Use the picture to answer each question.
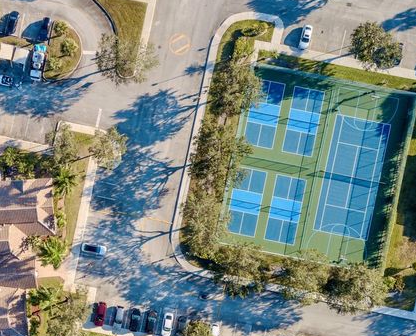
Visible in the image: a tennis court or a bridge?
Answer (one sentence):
Visible in the photo is a tennis court.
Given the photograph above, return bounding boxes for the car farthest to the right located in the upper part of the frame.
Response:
[299,26,312,51]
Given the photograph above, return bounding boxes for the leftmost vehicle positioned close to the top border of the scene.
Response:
[7,12,21,37]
